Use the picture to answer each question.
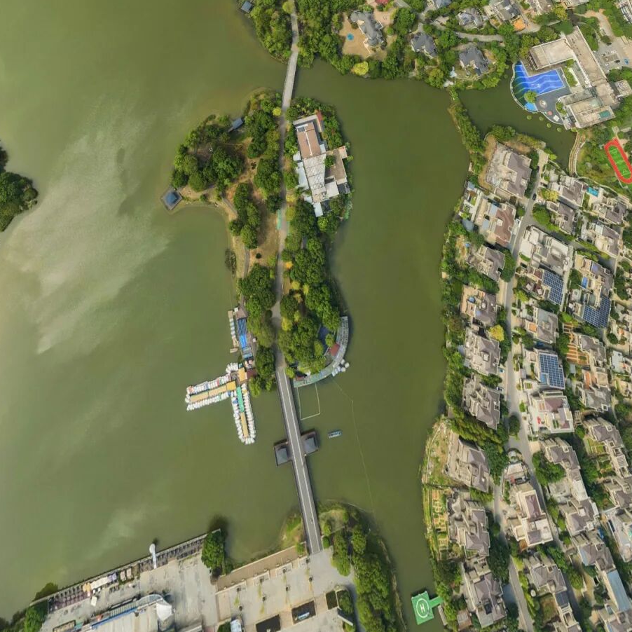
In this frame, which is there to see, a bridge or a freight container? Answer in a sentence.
Visible in the photo is a bridge.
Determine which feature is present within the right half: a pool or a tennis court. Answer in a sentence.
Visible within the right half is a pool.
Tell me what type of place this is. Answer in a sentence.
The area seen from above is a residential area.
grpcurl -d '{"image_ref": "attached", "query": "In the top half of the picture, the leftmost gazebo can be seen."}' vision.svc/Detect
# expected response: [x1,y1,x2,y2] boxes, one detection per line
[161,187,183,210]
